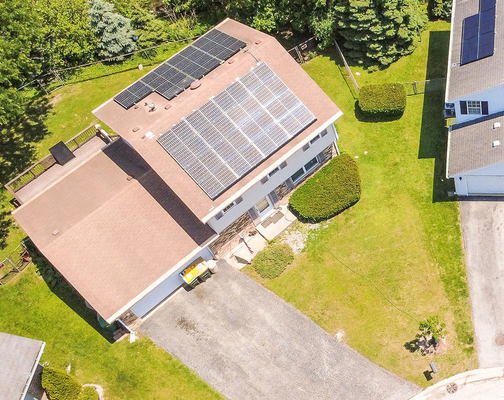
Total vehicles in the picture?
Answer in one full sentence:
The photo contains no vehicles.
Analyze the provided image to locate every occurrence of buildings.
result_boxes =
[443,0,504,199]
[0,336,49,400]
[4,20,345,349]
